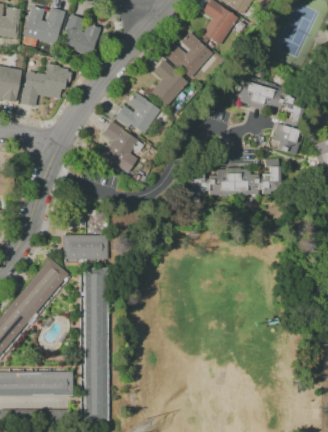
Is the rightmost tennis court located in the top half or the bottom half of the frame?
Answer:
top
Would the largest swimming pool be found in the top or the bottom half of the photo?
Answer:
bottom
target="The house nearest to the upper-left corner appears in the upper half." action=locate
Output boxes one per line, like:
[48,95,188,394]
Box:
[0,0,20,38]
